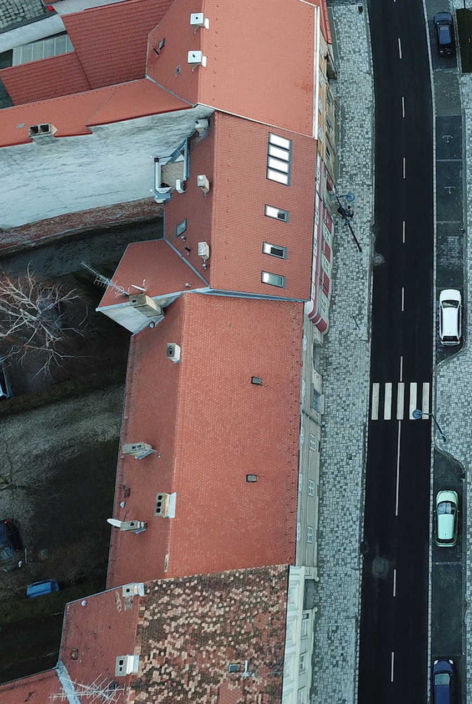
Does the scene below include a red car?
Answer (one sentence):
No, there is no red car in the image.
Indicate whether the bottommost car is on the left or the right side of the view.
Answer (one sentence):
It is on the right.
